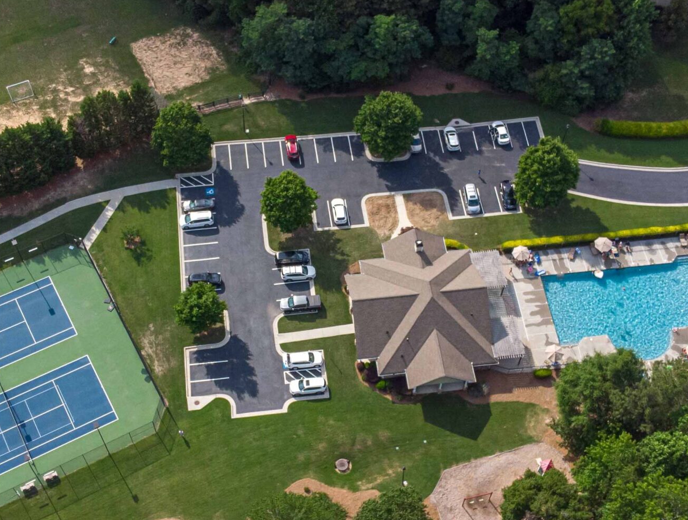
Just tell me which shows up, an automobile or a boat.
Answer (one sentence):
Looking from above, you can make out an automobile.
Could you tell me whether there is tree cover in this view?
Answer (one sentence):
Yes, there is tree cover in the image.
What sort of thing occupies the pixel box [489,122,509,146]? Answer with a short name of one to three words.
car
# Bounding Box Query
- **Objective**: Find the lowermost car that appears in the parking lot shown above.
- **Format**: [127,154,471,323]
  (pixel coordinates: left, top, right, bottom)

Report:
[291,377,327,395]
